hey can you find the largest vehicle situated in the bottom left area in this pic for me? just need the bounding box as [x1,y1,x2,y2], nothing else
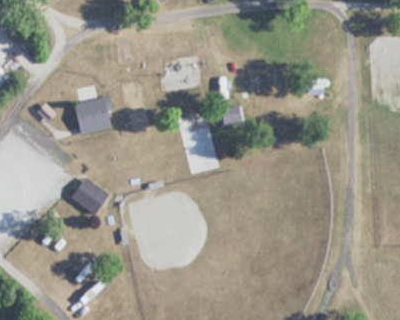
[80,279,106,304]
